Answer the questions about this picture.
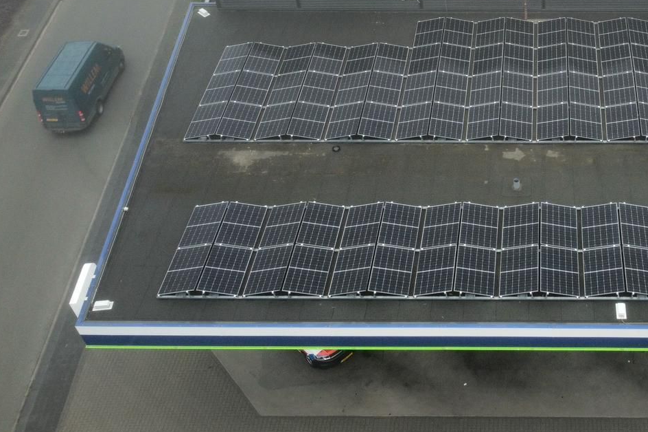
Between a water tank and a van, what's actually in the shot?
van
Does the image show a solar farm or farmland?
solar farm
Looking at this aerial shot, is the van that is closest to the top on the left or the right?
left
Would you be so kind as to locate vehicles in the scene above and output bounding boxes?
[31,38,126,132]
[293,349,356,372]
